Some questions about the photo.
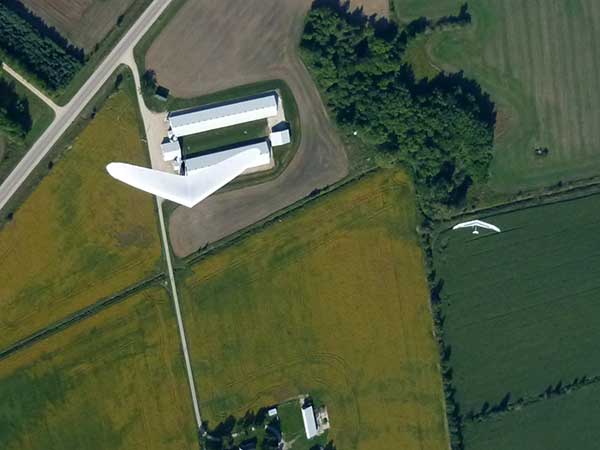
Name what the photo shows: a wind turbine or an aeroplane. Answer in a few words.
aeroplane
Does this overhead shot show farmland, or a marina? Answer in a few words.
farmland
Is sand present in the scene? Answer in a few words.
No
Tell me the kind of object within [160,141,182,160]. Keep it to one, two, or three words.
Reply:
barn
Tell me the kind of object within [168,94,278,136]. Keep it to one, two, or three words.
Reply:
barn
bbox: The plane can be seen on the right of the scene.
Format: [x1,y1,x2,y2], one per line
[452,220,500,233]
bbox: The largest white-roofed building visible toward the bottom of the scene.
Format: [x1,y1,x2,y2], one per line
[302,407,318,439]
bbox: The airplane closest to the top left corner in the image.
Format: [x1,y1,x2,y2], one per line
[105,146,265,208]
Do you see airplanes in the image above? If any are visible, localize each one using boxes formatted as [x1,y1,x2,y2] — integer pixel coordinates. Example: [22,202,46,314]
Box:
[105,146,265,208]
[452,220,500,233]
